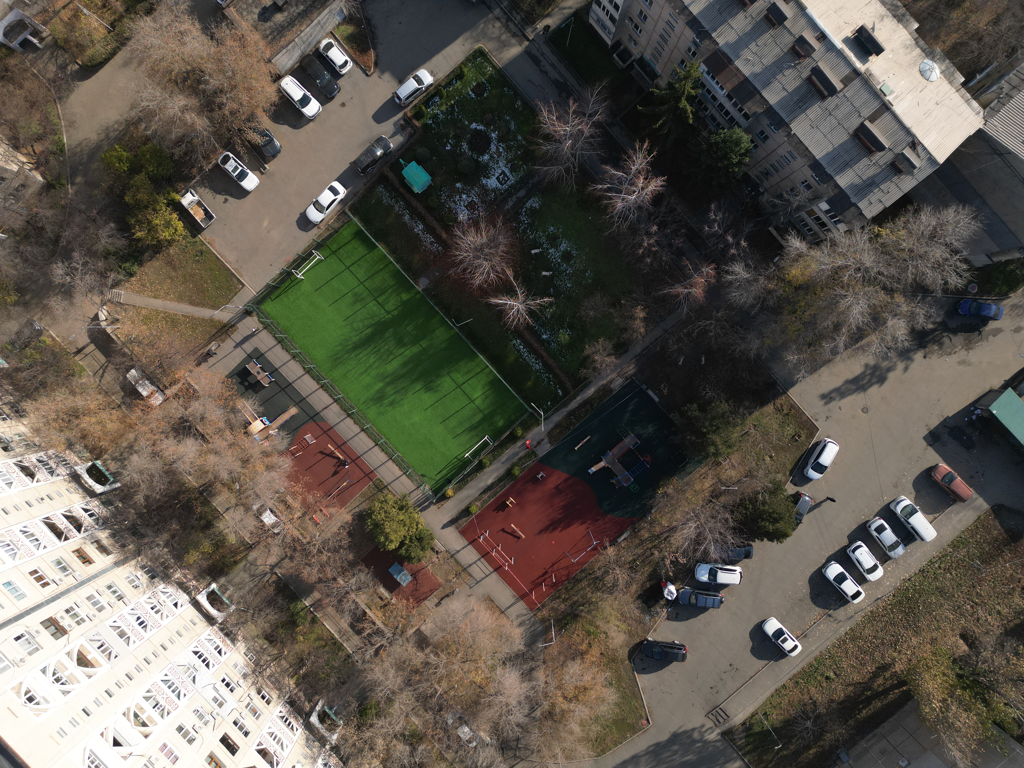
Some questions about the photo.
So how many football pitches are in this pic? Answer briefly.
1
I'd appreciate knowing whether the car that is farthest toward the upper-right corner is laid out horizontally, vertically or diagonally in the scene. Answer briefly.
horizontally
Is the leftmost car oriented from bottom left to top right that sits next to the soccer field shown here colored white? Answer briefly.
Yes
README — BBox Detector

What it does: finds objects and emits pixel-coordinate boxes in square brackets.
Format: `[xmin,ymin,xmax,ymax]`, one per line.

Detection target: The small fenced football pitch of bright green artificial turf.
[260,221,531,496]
